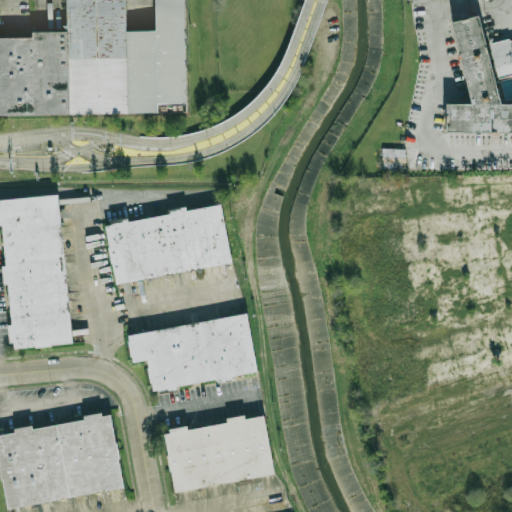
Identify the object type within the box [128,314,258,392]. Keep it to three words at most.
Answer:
building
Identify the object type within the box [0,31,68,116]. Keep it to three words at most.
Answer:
building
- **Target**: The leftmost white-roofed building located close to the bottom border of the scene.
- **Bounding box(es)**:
[0,414,124,510]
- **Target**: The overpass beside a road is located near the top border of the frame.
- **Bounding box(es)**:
[138,0,328,167]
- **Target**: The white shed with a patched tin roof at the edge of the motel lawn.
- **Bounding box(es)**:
[382,148,407,168]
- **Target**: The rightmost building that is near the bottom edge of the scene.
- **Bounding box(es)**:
[165,416,274,494]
